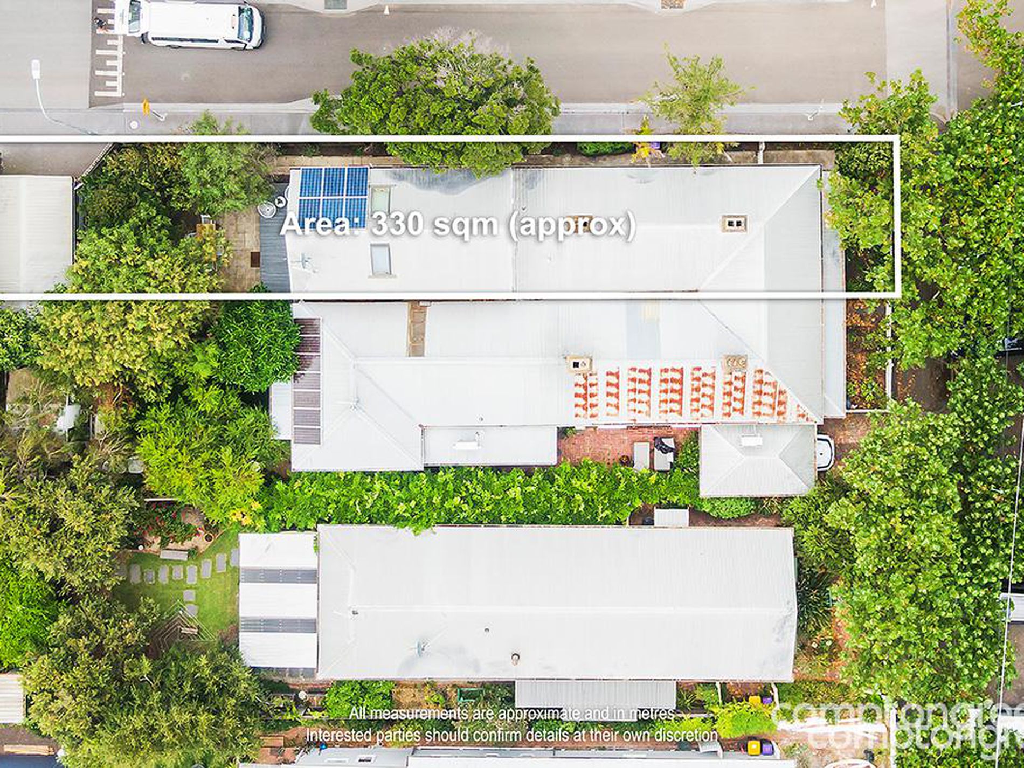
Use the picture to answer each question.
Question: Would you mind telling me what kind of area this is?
residential area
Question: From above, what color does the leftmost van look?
white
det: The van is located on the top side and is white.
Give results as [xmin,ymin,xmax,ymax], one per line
[114,0,267,53]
